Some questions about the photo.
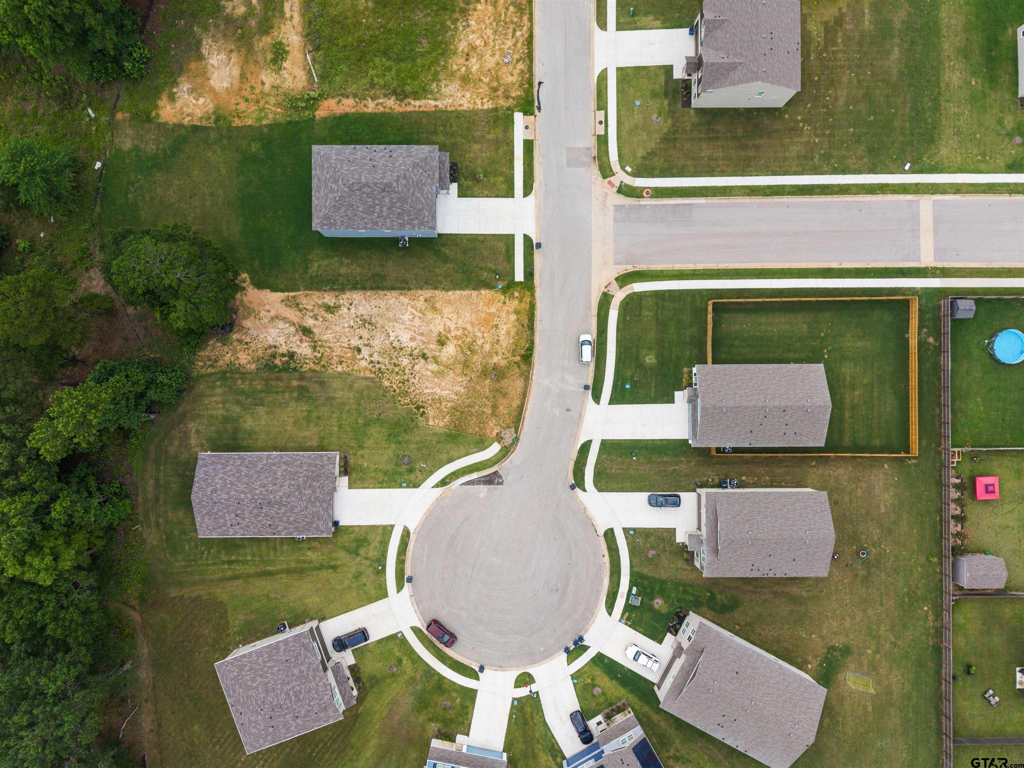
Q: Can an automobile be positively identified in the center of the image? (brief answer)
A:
Yes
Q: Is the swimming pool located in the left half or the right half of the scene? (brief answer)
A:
right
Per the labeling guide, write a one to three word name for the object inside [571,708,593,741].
car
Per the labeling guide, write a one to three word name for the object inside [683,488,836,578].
house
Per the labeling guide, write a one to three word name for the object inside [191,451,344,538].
house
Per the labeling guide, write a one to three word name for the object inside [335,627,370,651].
car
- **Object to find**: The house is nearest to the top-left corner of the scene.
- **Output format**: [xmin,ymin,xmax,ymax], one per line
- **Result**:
[311,144,452,237]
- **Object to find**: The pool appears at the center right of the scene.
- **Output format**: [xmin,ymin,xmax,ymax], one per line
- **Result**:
[985,328,1024,365]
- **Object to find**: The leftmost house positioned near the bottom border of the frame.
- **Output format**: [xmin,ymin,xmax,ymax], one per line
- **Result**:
[214,620,359,754]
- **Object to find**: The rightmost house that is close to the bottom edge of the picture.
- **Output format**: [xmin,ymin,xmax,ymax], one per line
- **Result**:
[654,611,827,768]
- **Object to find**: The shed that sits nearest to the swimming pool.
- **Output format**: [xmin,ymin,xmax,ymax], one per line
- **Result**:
[952,299,977,318]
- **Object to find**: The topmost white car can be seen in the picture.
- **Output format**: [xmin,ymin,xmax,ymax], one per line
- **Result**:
[578,333,594,363]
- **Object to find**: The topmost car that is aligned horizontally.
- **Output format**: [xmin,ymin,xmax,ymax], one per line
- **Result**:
[647,492,682,508]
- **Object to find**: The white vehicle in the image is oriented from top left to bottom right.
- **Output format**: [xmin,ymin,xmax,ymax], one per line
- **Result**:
[626,644,660,672]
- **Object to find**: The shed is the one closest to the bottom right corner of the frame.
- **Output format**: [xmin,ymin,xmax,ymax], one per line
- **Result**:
[954,555,1007,588]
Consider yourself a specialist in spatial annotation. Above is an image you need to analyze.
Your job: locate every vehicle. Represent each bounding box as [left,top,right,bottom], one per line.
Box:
[571,708,593,741]
[335,627,370,651]
[647,492,682,508]
[427,619,456,645]
[626,644,660,672]
[578,333,594,363]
